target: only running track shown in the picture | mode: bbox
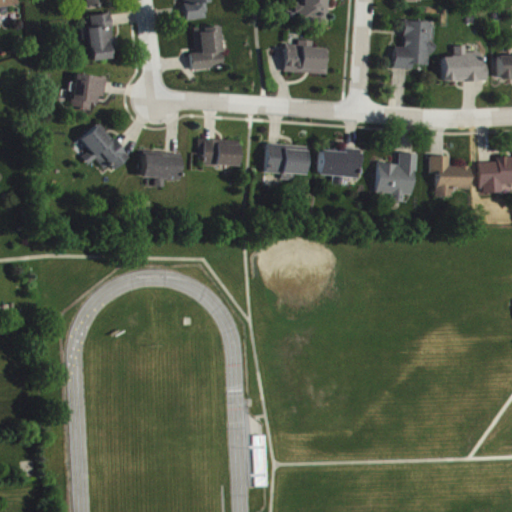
[67,269,251,512]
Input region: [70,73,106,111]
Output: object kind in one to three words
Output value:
house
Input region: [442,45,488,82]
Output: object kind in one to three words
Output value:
house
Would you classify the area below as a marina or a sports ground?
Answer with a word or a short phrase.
sports ground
